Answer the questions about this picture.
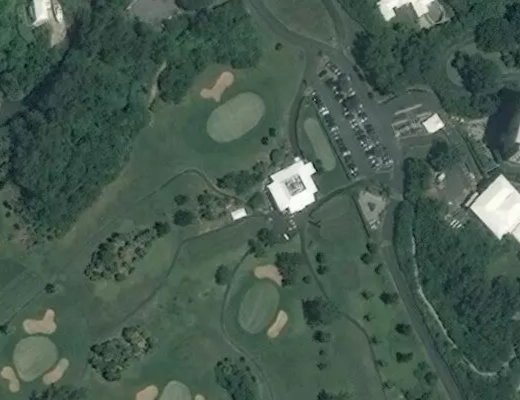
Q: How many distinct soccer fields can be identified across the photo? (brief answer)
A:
none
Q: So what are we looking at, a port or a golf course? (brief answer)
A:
golf course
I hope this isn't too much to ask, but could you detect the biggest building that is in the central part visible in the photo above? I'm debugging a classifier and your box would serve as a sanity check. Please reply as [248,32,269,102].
[268,156,317,213]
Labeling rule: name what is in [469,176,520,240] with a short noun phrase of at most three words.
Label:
building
